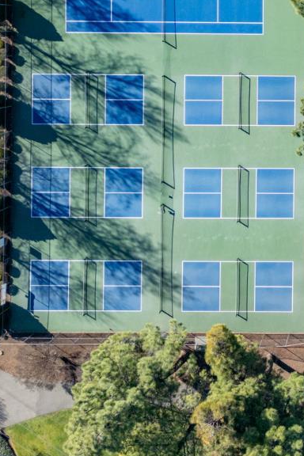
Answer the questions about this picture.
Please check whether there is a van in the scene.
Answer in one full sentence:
No, I can see no van in this picture.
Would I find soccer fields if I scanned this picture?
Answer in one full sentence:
No, the photo shows no soccer field.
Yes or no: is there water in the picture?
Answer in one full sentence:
No, the scene doesn't show any water.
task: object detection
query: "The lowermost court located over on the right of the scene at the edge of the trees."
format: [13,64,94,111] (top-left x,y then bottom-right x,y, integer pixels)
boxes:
[182,261,294,312]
